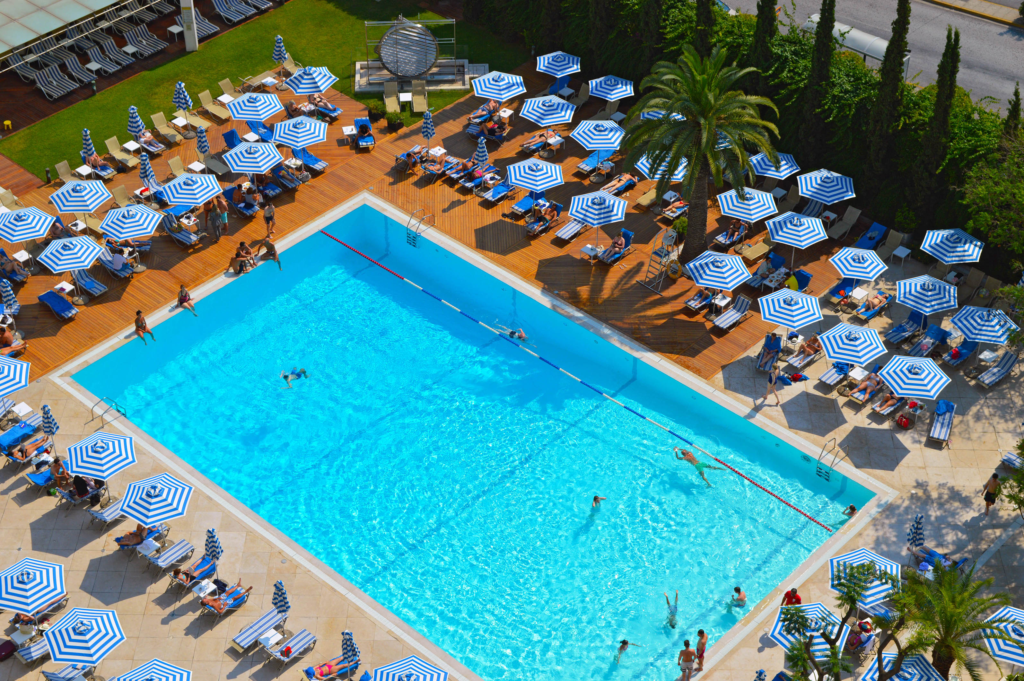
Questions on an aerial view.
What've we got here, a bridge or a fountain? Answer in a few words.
fountain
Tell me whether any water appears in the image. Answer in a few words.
Yes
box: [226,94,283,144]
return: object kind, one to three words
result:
umbrella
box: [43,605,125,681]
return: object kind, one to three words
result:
umbrella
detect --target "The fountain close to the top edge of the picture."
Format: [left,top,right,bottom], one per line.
[353,14,493,94]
